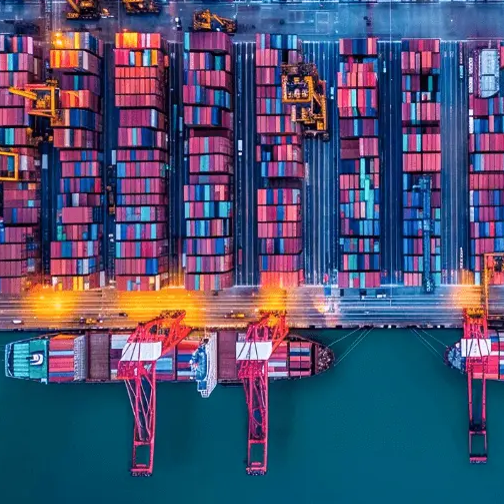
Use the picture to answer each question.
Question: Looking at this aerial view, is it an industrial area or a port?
port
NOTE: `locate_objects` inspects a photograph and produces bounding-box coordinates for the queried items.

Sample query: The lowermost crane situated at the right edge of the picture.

[454,305,497,467]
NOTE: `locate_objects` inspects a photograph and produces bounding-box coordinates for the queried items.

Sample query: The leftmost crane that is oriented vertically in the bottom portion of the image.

[110,305,195,481]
